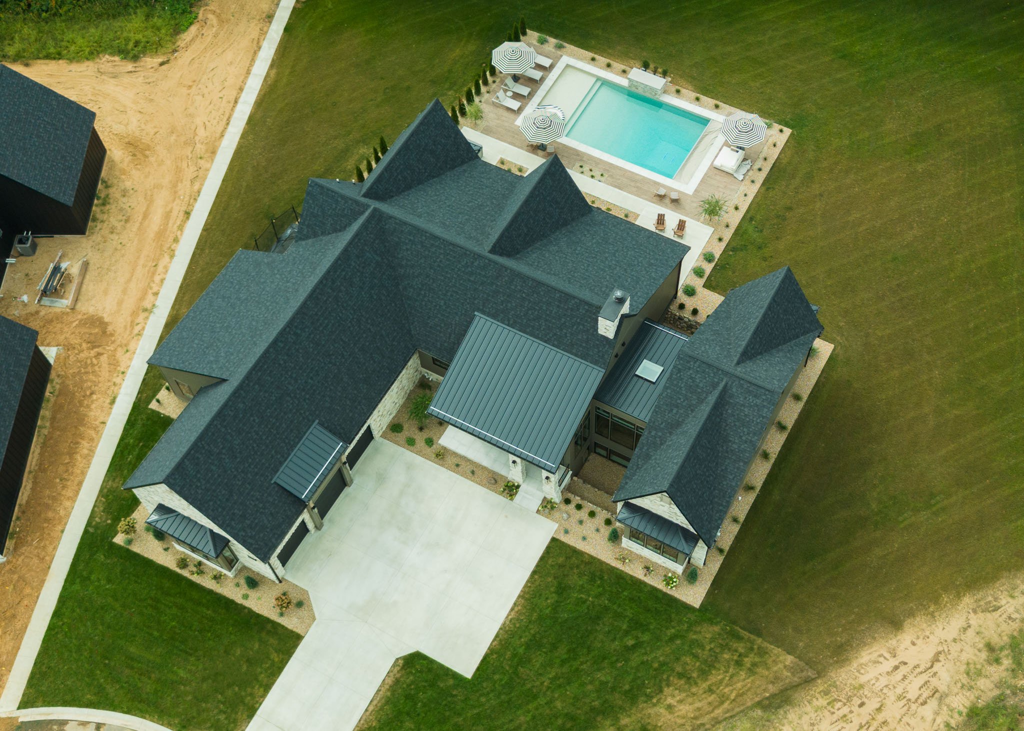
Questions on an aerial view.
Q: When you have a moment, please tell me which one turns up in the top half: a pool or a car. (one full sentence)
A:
You can see a pool in the top half.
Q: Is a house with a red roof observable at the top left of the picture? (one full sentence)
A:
No, no house with a red roof is visible at the top left of the picture.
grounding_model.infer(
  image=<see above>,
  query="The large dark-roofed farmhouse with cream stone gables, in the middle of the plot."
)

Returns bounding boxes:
[122,99,825,584]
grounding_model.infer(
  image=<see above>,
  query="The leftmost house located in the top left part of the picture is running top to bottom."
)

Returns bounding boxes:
[0,70,107,291]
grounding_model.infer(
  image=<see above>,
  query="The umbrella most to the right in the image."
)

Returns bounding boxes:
[721,111,767,151]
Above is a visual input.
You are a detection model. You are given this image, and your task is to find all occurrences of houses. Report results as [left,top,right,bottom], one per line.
[0,314,58,559]
[122,99,825,584]
[0,70,107,291]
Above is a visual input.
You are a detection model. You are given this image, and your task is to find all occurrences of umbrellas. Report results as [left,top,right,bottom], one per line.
[519,110,564,152]
[494,42,536,83]
[721,111,767,151]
